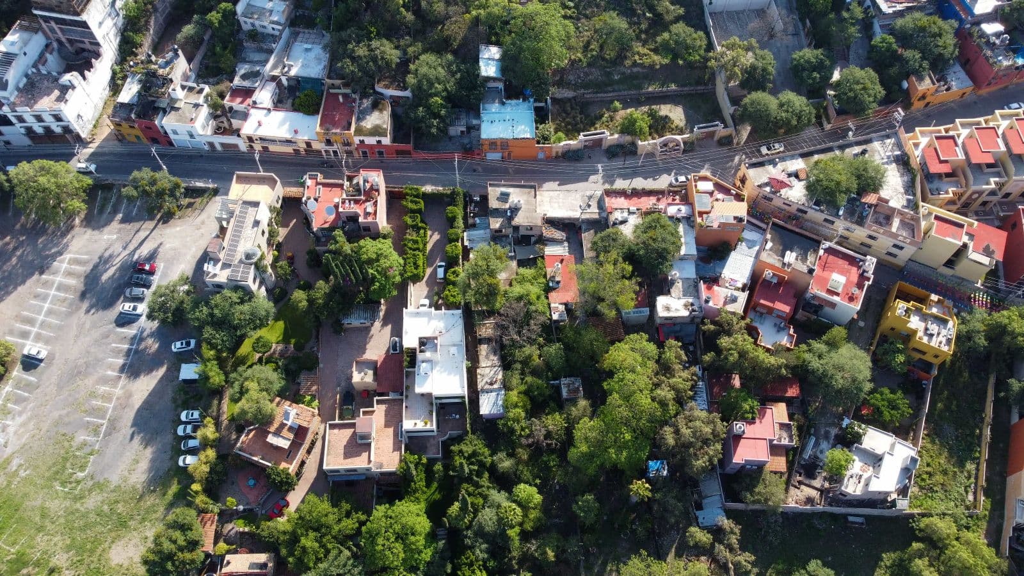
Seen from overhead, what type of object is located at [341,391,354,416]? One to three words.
vehicle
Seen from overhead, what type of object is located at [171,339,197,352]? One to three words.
vehicle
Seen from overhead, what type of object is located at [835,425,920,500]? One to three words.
house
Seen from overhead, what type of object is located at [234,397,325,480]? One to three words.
house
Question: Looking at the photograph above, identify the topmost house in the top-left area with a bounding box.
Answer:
[239,0,294,46]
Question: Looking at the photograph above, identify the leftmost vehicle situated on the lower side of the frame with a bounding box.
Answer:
[22,347,49,360]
